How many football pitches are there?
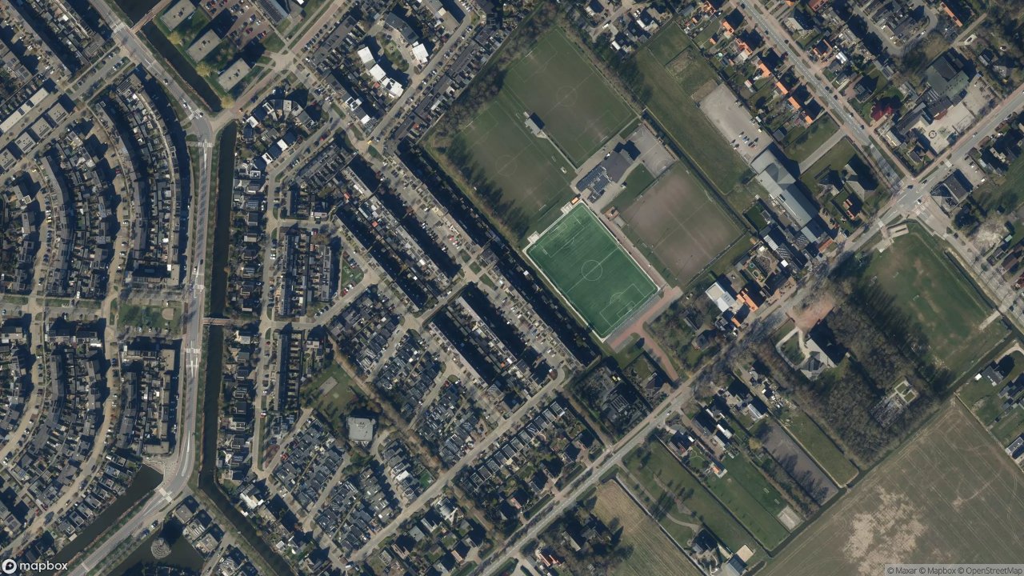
4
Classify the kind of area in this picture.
residential area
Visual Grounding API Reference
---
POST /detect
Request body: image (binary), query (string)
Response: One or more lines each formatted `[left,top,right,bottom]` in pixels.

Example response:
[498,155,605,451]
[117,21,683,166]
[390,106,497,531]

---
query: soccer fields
[500,26,633,165]
[522,199,663,342]
[450,90,577,225]
[622,162,745,283]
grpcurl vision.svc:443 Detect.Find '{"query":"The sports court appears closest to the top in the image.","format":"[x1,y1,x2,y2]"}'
[625,123,676,177]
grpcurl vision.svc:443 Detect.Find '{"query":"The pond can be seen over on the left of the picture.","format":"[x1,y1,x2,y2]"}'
[112,512,205,576]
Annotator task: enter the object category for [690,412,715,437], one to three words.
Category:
house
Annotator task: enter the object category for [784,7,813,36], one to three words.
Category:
house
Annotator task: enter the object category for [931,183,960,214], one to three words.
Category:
building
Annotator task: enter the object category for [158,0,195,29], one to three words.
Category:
building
